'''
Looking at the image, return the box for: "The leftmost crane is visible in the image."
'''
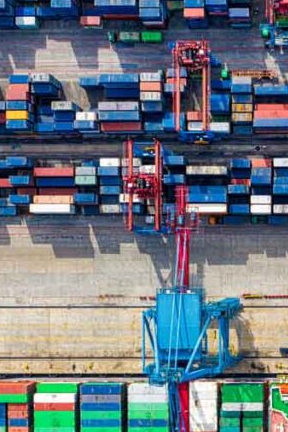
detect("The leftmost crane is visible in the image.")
[121,138,180,240]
